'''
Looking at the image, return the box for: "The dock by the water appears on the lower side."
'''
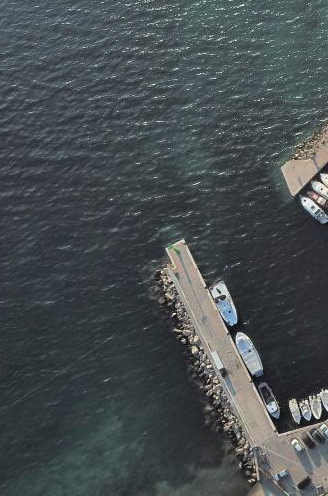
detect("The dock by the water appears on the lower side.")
[166,240,279,451]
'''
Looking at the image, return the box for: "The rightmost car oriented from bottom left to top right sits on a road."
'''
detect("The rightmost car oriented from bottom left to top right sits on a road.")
[295,474,313,490]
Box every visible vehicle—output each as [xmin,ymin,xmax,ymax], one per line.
[271,466,291,481]
[291,436,303,453]
[310,426,324,445]
[302,431,316,450]
[320,422,328,439]
[295,474,313,490]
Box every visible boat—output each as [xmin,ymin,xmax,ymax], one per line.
[256,382,278,418]
[298,195,328,226]
[208,282,235,327]
[310,395,321,420]
[289,398,300,426]
[301,399,311,423]
[237,333,264,379]
[317,168,328,187]
[306,188,328,212]
[322,388,328,410]
[307,179,328,202]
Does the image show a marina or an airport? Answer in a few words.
marina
